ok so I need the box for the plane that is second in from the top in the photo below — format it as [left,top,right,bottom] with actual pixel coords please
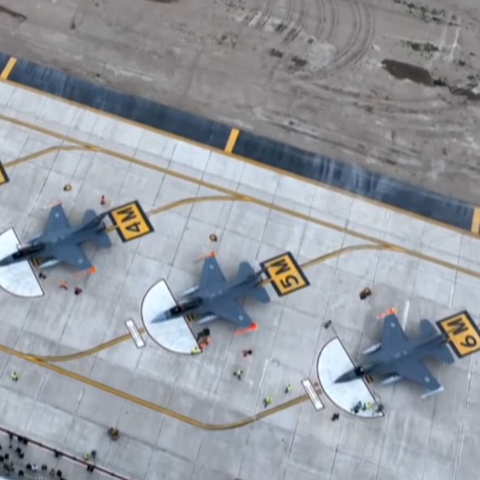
[147,253,269,336]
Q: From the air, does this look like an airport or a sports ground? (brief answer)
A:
airport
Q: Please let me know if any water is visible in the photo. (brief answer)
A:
No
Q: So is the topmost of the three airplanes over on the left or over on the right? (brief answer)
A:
left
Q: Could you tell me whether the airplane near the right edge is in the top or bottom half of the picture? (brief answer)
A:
bottom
